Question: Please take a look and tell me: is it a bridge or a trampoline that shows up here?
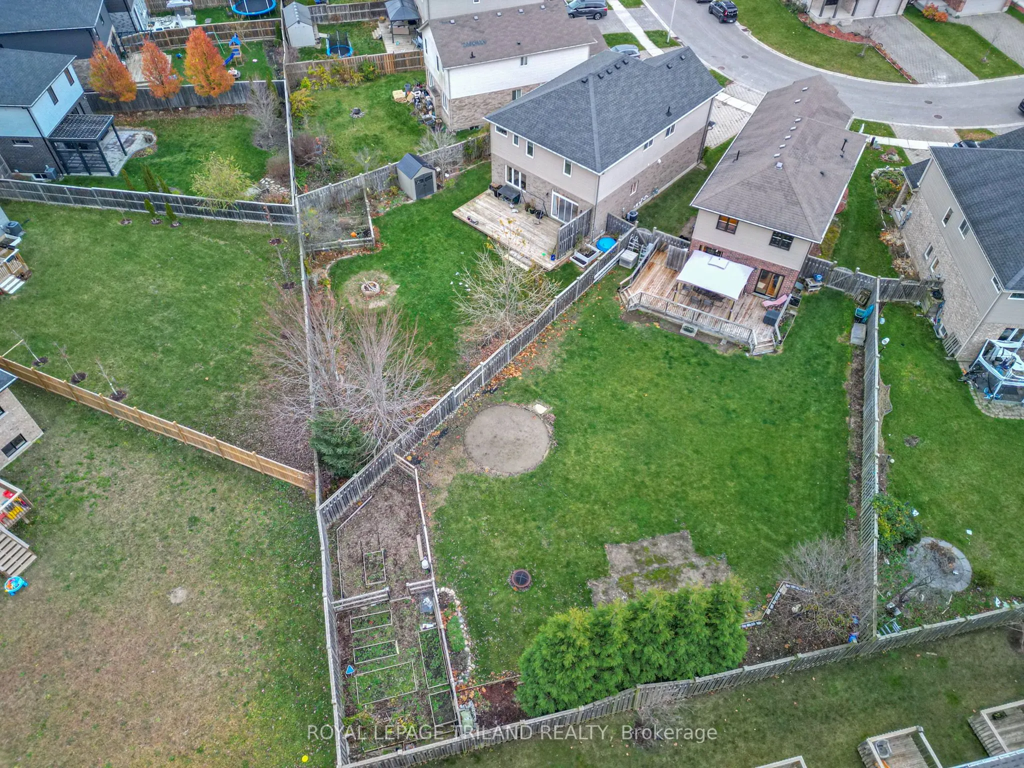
trampoline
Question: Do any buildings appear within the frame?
Yes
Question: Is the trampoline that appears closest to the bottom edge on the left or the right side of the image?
left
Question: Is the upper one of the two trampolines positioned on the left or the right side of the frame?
left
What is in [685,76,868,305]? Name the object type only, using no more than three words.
house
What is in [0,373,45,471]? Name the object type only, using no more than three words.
house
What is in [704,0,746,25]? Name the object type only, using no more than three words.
car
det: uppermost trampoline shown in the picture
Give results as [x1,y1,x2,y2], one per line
[228,0,280,21]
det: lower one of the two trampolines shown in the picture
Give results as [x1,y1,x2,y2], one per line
[321,27,356,58]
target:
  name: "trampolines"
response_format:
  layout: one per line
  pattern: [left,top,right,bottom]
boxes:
[321,27,356,58]
[228,0,280,21]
